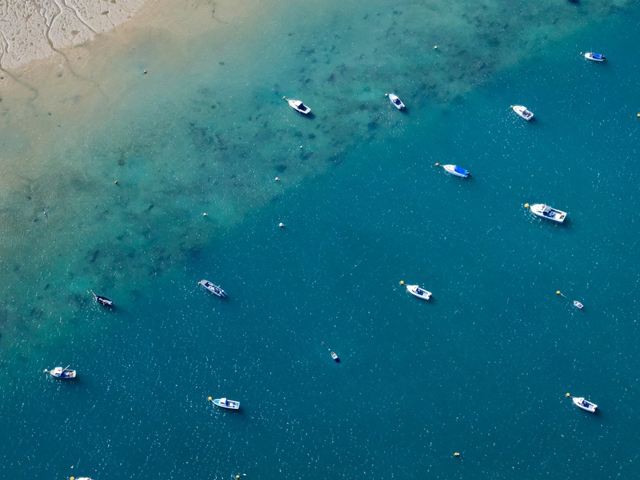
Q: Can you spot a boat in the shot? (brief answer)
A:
Yes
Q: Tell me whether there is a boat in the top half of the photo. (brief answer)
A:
Yes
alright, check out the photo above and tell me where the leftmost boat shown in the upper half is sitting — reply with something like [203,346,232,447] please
[288,99,312,116]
